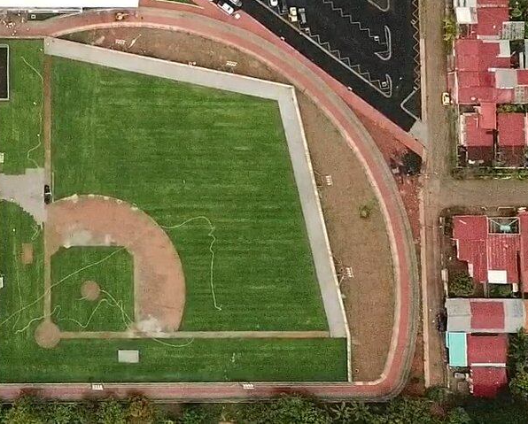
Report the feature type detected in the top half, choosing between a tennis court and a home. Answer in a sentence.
There is a home in the top half.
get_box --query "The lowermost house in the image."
[467,365,507,398]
